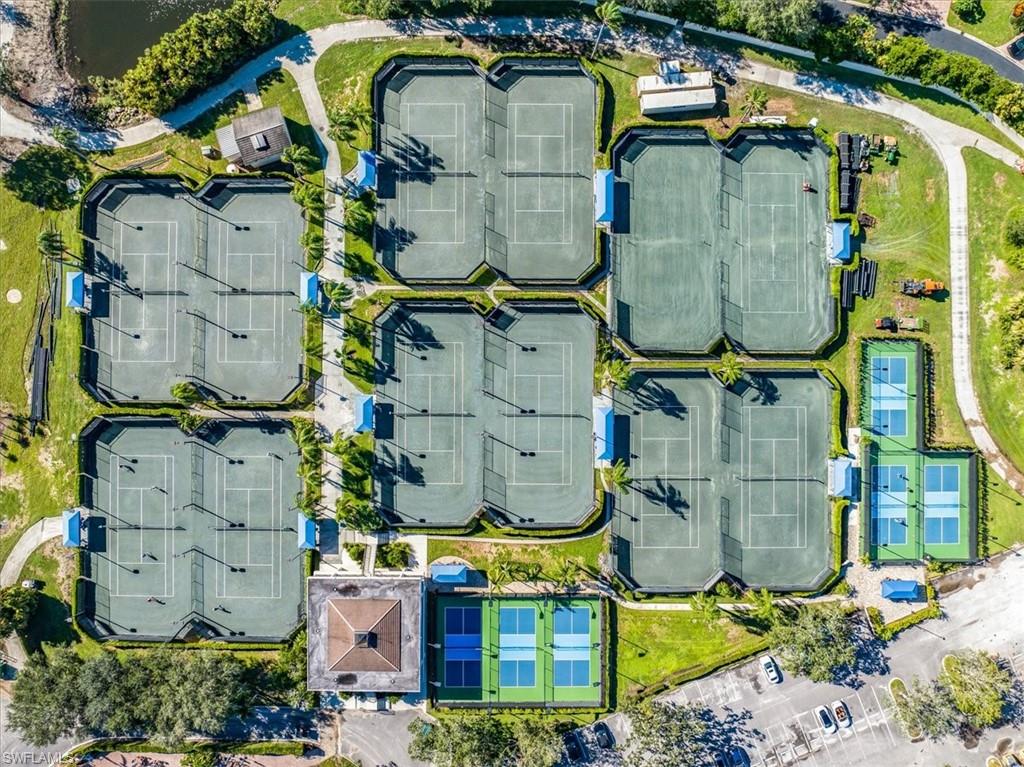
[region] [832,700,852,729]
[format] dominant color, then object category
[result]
white car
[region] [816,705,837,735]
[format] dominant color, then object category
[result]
white car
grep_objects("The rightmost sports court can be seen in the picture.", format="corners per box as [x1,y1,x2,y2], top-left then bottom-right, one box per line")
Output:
[919,452,969,558]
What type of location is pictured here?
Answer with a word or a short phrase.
sports ground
